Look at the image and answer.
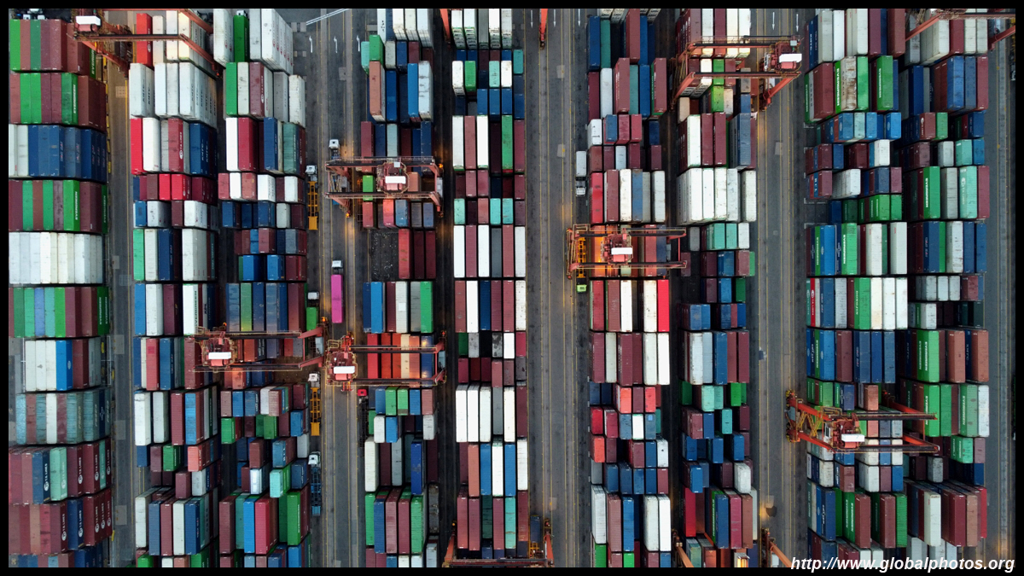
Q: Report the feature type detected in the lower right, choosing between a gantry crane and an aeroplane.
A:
gantry crane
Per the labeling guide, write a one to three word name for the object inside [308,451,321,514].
vehicle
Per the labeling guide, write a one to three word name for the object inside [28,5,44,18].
vehicle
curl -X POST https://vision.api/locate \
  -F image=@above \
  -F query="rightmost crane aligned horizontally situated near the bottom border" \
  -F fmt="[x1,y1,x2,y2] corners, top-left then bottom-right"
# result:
[672,527,808,576]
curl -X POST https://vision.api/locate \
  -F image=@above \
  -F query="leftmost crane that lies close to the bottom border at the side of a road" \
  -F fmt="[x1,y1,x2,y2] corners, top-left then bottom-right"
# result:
[429,514,558,576]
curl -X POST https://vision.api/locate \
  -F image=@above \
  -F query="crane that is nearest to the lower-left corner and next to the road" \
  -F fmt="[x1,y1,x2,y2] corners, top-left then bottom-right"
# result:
[184,315,330,374]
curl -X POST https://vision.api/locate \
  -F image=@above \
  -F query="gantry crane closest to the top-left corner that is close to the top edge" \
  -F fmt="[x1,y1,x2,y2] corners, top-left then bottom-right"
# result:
[61,0,221,82]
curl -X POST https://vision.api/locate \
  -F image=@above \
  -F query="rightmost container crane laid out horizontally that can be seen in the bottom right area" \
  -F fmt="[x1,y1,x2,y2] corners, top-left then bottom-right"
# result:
[786,386,943,455]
